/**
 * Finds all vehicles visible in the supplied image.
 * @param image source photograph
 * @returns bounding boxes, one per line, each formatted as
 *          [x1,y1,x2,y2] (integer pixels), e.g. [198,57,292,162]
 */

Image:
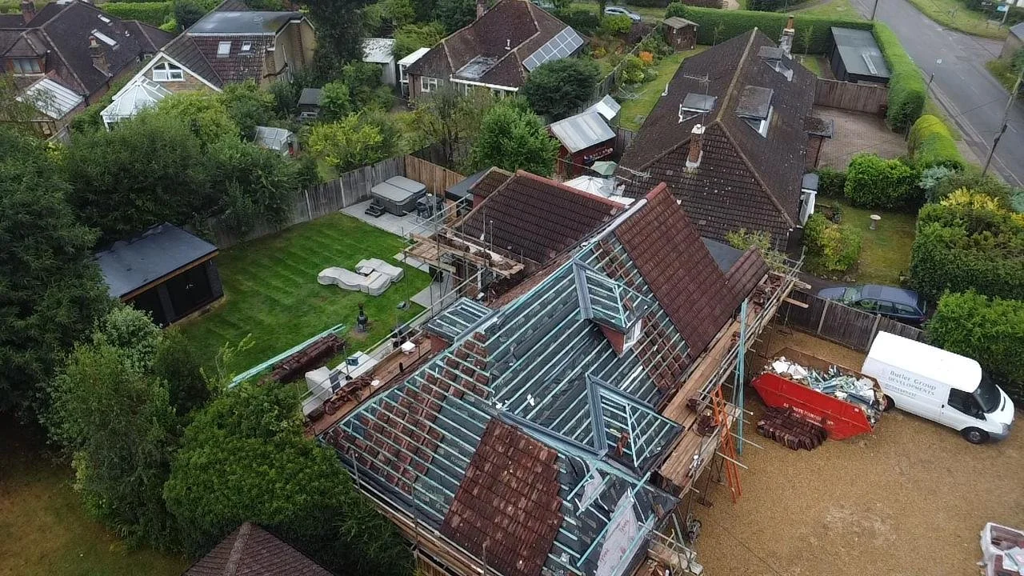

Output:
[863,333,1019,448]
[605,6,645,21]
[817,283,936,334]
